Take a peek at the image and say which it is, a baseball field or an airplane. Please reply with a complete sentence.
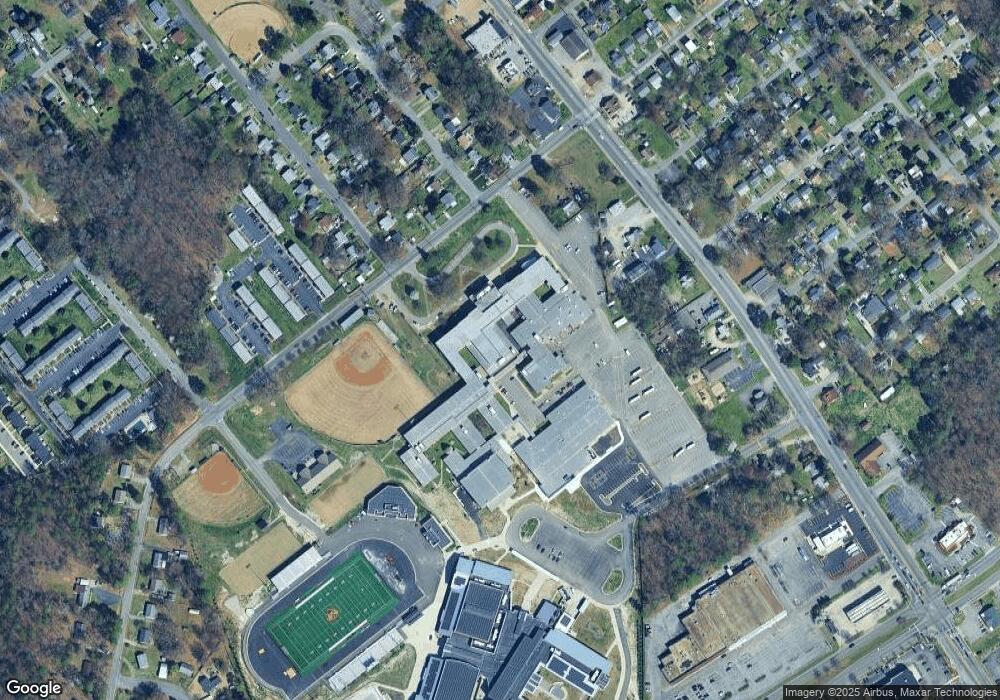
I can see a baseball field in this picture.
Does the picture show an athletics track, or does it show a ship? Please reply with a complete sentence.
It is an athletics track that can be seen here.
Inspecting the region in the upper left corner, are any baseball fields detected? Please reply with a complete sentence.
Yes, a baseball field is visible in the upper left corner.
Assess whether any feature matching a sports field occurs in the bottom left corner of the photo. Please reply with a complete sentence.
Yes, a sports field can be seen in the bottom left corner of the photo.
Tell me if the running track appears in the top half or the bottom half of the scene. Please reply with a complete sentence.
You can find the running track in the bottom half.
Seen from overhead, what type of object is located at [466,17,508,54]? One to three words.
building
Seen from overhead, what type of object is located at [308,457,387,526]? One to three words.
sports field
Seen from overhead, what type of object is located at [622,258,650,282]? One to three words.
building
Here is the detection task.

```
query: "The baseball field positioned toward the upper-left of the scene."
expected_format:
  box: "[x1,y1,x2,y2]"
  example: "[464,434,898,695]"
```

[190,0,292,64]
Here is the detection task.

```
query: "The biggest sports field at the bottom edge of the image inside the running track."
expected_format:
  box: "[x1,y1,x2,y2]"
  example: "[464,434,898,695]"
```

[266,553,399,676]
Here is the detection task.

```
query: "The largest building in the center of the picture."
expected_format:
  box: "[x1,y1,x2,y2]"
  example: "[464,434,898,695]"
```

[399,255,618,523]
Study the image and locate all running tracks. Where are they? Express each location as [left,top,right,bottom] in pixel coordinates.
[244,538,425,698]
